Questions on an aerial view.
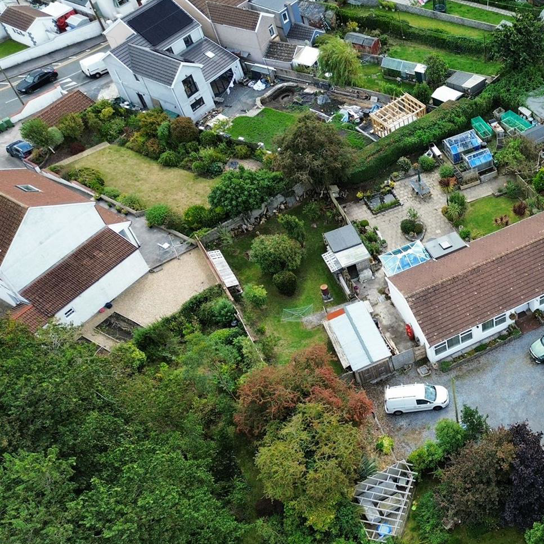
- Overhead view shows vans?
Yes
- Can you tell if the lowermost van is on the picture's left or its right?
right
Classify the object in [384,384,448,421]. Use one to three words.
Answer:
van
